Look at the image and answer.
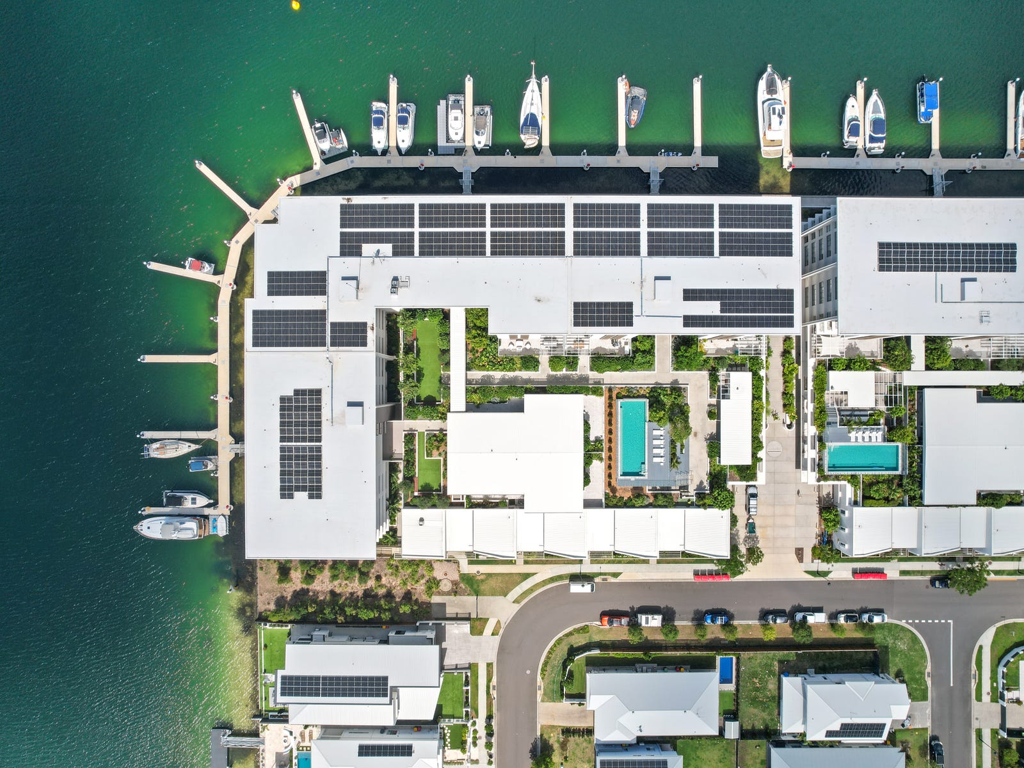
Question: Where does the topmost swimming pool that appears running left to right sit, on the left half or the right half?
right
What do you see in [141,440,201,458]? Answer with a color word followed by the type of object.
white boat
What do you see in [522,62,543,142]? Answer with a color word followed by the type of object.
white boat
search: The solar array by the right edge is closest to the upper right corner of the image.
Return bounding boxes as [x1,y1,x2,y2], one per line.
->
[878,242,1016,272]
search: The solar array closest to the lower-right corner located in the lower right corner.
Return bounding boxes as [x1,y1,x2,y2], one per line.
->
[823,725,890,739]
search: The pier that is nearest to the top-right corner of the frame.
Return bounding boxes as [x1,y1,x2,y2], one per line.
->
[1002,80,1018,159]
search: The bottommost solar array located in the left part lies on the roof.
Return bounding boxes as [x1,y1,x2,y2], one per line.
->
[358,744,412,757]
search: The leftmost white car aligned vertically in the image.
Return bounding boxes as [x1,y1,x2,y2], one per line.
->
[746,487,760,516]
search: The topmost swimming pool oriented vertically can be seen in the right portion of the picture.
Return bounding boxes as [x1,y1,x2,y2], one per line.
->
[616,398,649,479]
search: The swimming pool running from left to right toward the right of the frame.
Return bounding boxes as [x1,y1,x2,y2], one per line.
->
[823,442,902,474]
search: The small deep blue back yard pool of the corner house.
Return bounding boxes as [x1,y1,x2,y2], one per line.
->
[717,654,734,686]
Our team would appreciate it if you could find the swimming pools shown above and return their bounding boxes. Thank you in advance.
[616,398,649,479]
[823,442,902,474]
[296,748,311,768]
[717,654,734,686]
